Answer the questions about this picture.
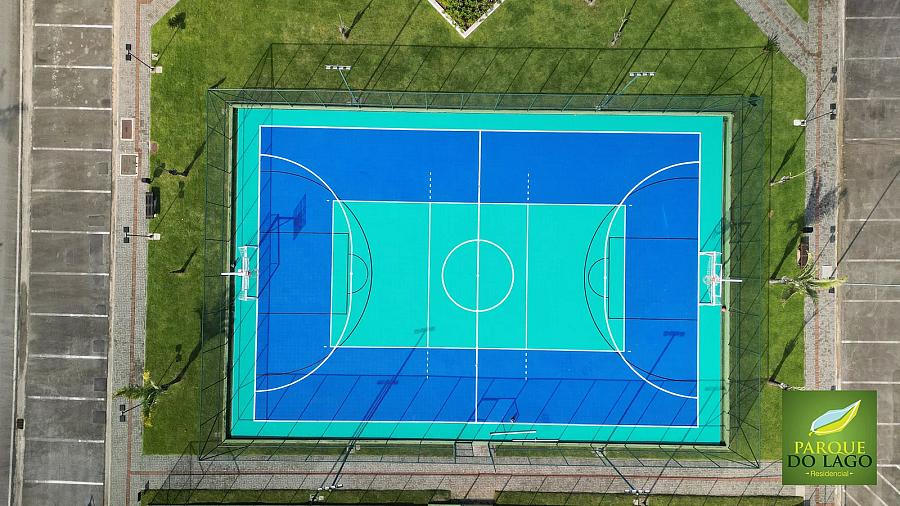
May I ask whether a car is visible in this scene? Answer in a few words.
No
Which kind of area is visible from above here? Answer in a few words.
sports ground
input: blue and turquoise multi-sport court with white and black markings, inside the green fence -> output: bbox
[229,111,727,445]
